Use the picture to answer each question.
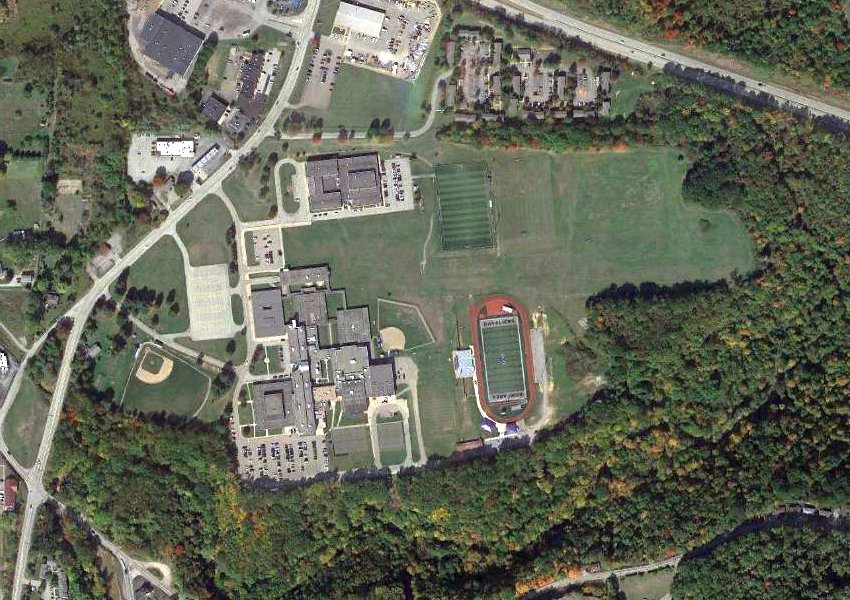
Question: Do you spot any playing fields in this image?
Yes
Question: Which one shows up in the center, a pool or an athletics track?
athletics track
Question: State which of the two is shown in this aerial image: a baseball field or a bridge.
baseball field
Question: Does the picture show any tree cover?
Yes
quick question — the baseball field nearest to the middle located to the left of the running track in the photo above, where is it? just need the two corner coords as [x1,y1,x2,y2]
[378,299,435,352]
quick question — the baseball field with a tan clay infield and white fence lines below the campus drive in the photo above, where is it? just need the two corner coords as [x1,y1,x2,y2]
[120,341,212,417]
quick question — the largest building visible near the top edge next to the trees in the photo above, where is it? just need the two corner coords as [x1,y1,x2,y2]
[140,12,204,77]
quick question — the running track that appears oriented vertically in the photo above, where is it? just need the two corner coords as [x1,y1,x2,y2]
[471,295,534,422]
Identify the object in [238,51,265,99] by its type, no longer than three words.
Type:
building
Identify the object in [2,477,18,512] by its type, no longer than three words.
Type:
building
